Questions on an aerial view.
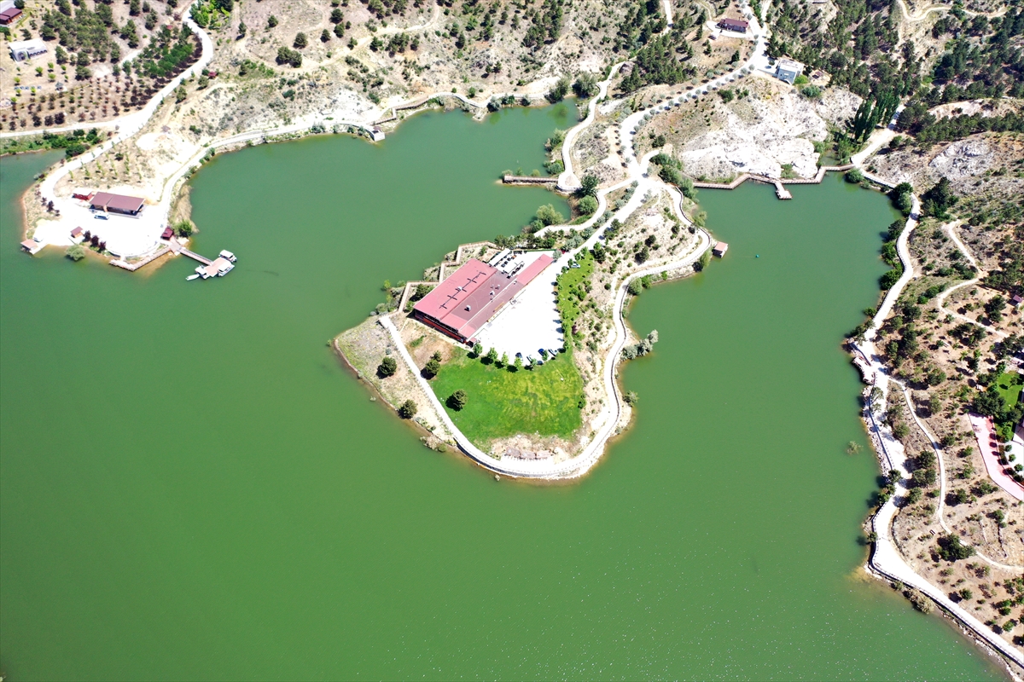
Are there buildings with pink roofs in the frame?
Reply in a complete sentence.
Yes, the frame does contain a building with a pink roof.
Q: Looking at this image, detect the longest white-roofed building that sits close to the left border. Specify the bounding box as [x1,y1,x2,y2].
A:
[8,38,48,61]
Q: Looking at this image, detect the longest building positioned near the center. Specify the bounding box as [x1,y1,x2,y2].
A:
[414,254,554,347]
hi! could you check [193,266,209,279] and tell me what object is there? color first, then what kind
white boat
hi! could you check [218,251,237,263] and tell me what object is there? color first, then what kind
white boat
